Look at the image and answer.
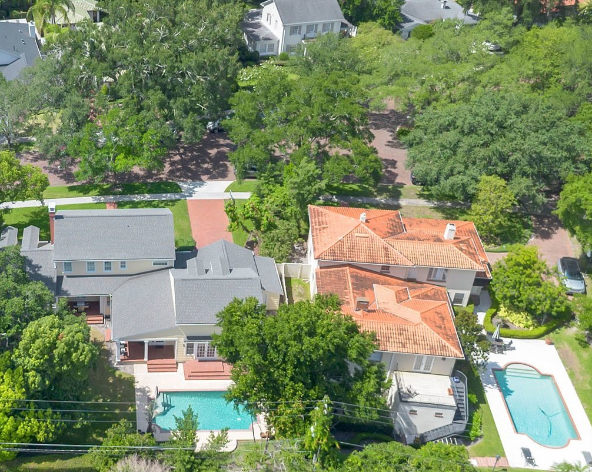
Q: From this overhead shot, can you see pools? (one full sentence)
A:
Yes, a pool can be made out from above.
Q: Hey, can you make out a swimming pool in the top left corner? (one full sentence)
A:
No, I can find no swimming pool in the top left corner.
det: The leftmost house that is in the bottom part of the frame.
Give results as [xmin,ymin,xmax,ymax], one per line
[0,205,284,380]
